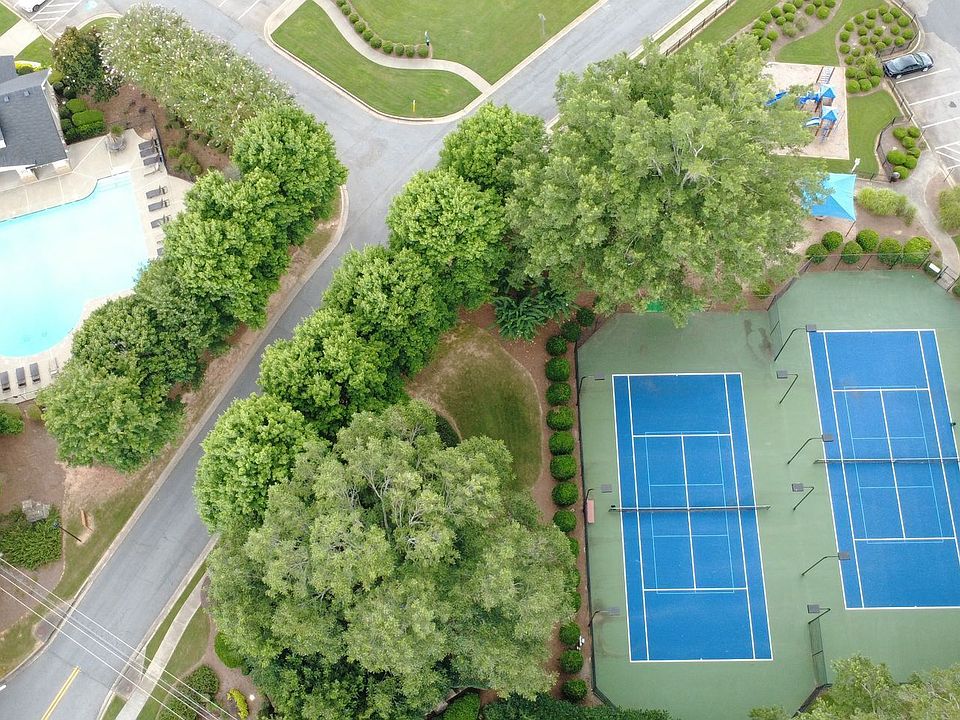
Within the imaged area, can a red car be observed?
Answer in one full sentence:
No, this view has no red car in it.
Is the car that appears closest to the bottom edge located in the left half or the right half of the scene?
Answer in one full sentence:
You can find the car that appears closest to the bottom edge on the right side of the picture.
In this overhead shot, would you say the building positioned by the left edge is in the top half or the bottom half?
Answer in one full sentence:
Seen from above, the building positioned by the left edge lies in the top half of the view.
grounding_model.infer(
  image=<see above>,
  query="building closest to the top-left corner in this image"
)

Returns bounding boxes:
[0,53,69,178]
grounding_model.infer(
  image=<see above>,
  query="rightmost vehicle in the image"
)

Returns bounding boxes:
[883,52,936,81]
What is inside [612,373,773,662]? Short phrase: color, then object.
blue tennis court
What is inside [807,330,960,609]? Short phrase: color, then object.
blue tennis court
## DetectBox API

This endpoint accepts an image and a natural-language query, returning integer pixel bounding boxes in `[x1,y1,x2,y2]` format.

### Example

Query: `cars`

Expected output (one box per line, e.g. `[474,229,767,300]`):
[883,52,936,81]
[19,0,47,13]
